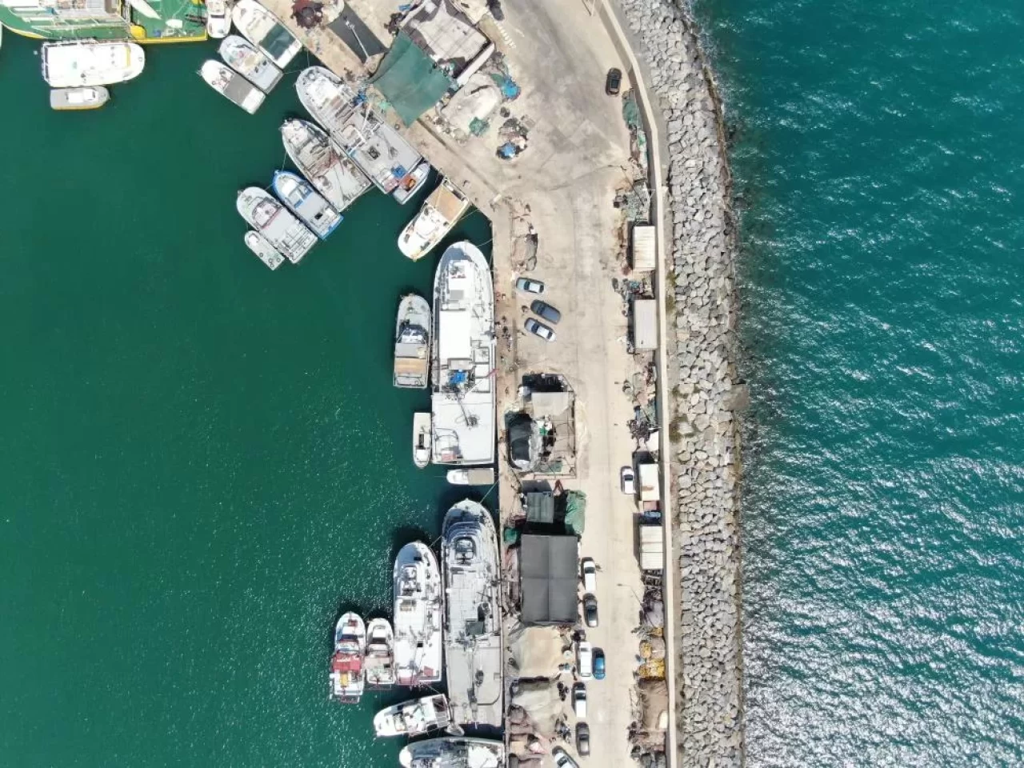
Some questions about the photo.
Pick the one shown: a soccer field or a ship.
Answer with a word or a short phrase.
ship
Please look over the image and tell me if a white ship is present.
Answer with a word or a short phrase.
Yes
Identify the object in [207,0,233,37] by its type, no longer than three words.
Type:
boat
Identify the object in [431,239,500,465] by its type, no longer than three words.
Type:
ship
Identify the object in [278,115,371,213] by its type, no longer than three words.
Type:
boat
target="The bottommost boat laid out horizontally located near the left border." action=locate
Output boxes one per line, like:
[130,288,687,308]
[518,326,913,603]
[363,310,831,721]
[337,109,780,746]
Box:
[50,87,110,111]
